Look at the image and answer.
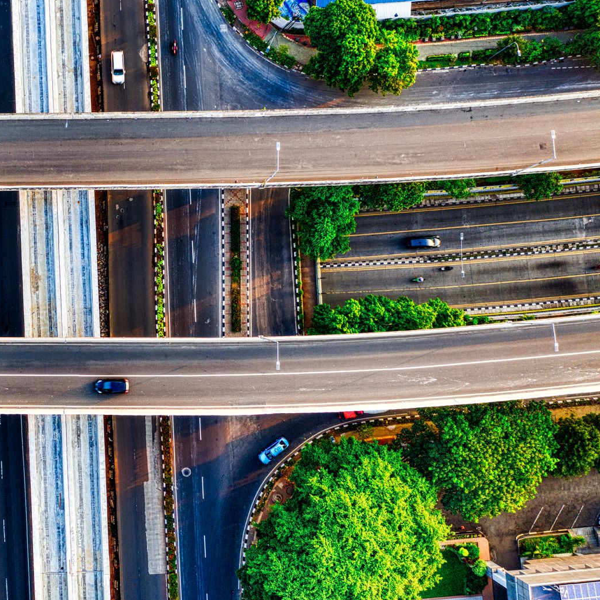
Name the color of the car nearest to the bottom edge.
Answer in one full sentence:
In this view, the car nearest to the bottom edge is blue.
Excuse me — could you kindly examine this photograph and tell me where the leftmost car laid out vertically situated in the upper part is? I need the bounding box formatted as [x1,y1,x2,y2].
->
[111,49,126,84]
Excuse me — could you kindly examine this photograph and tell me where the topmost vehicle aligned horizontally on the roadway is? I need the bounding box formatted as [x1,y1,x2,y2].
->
[406,234,441,249]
